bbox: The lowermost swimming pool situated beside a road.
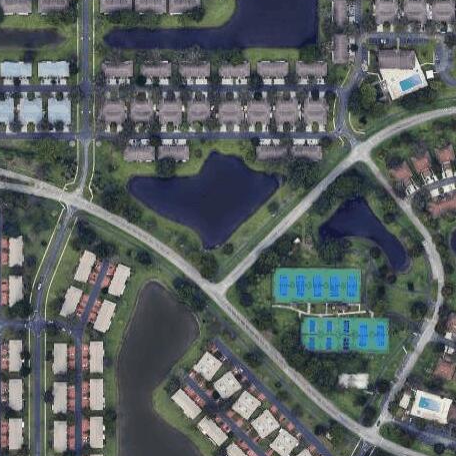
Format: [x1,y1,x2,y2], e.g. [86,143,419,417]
[412,391,452,424]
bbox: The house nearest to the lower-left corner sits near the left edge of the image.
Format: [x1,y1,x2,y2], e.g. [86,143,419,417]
[10,418,24,449]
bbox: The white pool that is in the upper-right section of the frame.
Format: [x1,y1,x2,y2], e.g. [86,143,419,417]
[380,57,429,101]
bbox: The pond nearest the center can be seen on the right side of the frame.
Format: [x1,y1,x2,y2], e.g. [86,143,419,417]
[320,199,408,271]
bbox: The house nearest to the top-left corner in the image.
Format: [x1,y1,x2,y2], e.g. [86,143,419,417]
[2,0,32,15]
